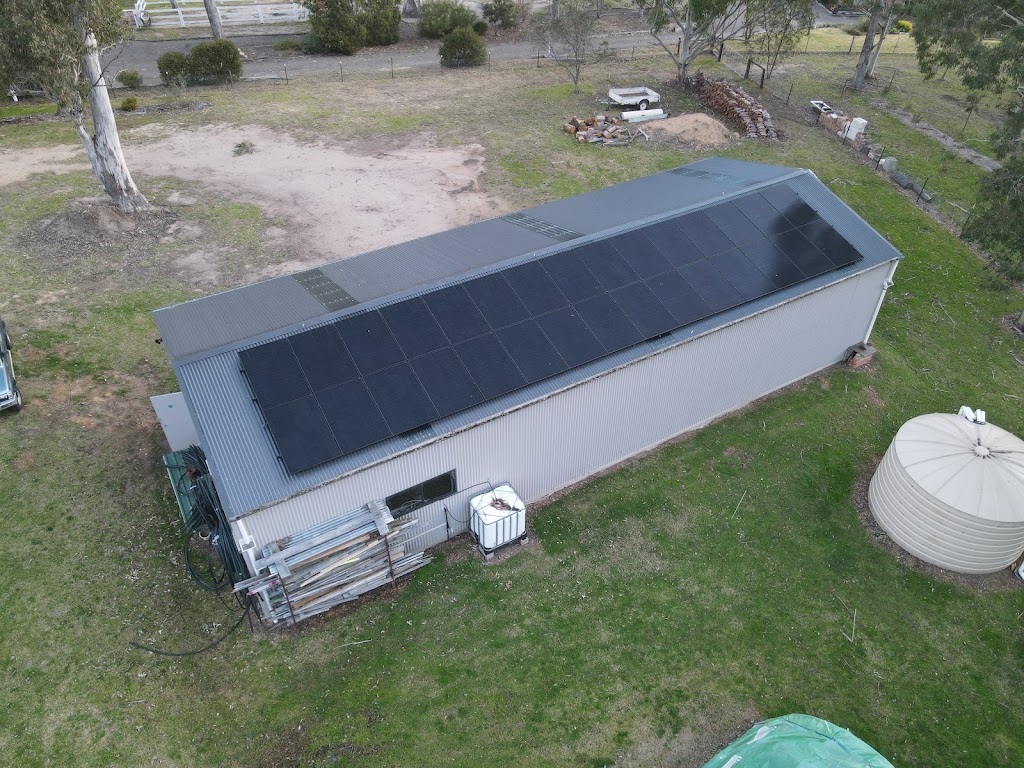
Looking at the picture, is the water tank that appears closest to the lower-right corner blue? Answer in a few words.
No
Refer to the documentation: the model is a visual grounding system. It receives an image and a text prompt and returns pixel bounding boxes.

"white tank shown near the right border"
[871,406,1024,576]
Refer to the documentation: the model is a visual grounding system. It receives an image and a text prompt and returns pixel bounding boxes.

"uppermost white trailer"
[592,86,658,111]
